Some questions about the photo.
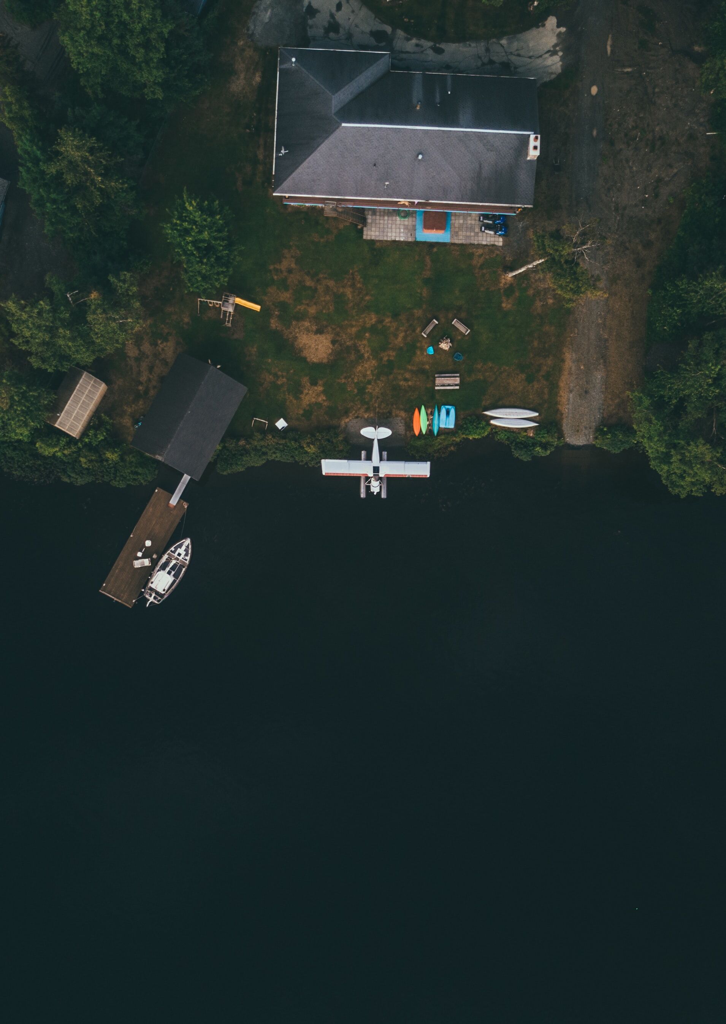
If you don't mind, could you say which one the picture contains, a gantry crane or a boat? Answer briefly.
boat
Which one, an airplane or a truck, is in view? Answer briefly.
airplane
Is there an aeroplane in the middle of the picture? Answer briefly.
Yes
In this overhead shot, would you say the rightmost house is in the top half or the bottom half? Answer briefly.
top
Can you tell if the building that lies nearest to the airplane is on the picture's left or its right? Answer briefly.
left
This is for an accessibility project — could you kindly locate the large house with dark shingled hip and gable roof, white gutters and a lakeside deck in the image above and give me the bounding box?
[272,47,540,228]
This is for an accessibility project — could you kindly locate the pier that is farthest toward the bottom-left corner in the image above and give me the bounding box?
[99,487,189,608]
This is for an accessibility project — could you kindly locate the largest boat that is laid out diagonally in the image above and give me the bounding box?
[144,537,191,607]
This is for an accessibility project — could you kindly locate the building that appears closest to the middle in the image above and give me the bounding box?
[131,353,248,481]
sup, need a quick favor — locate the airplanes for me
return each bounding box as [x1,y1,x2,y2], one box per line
[321,427,431,499]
